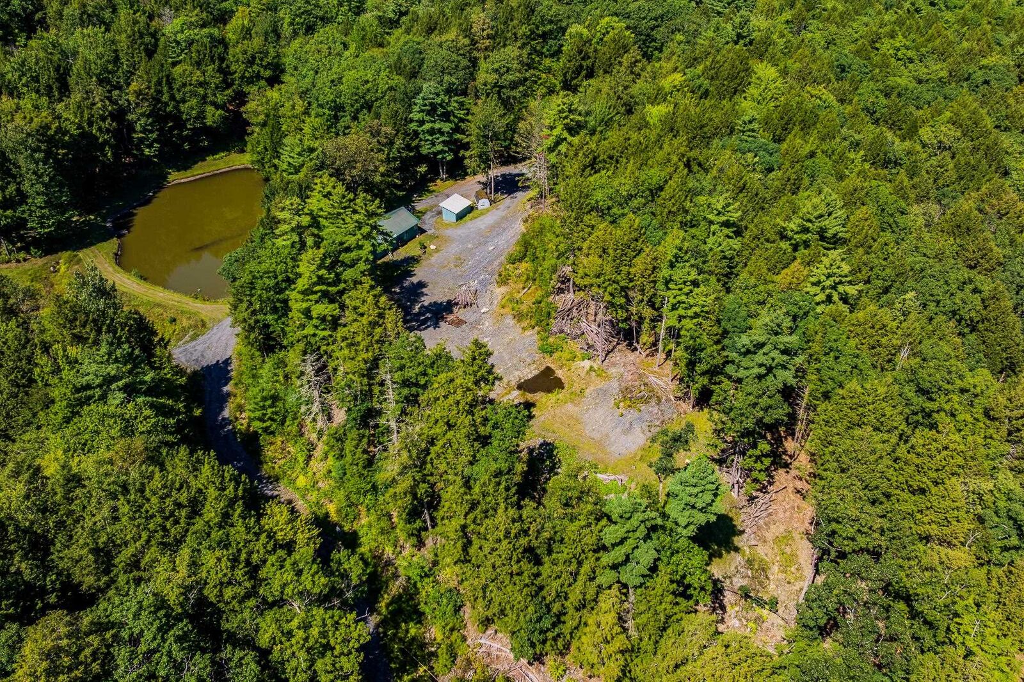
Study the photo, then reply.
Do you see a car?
No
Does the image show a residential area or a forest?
forest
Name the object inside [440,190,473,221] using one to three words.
shed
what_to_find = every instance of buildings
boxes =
[474,189,490,209]
[372,201,422,253]
[440,190,473,221]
